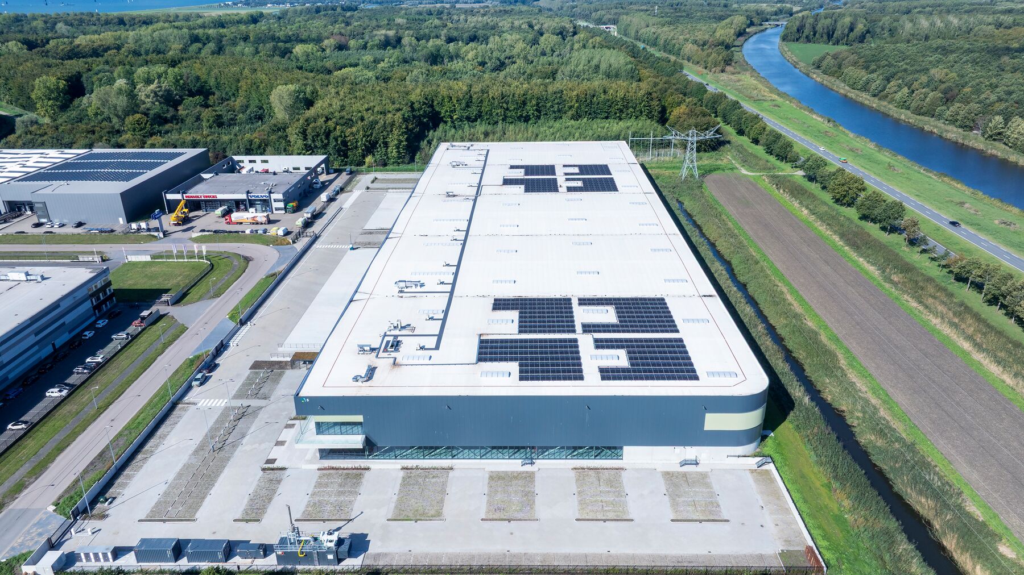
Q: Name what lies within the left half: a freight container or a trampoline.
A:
freight container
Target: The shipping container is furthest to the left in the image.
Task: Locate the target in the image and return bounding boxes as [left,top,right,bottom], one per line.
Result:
[133,538,183,563]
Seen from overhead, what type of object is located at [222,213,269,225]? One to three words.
vehicle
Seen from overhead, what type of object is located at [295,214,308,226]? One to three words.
vehicle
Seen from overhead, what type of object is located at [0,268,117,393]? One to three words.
building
